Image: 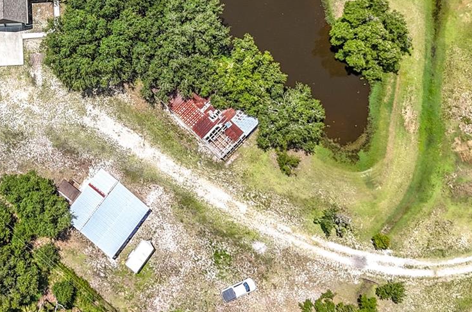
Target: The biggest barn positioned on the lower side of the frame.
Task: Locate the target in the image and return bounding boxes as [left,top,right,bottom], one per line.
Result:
[64,168,153,260]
